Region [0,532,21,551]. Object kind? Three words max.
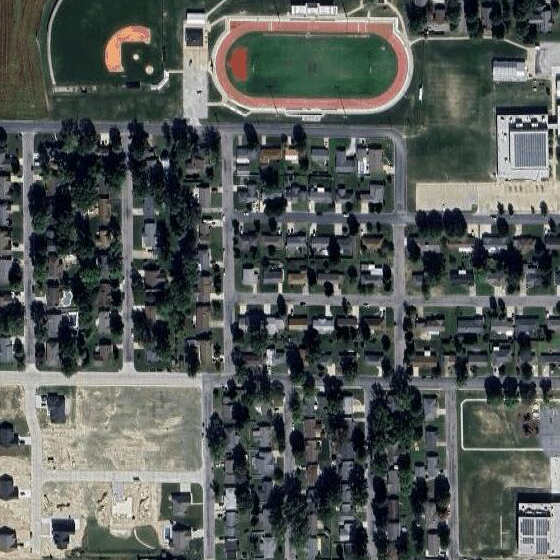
house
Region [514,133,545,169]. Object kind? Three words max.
solar panel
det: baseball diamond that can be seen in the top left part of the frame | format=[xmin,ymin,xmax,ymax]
[49,0,164,87]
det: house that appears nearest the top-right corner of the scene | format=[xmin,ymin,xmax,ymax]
[529,11,552,34]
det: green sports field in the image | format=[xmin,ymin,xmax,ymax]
[226,32,398,98]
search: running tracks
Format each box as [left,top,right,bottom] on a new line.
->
[213,16,411,111]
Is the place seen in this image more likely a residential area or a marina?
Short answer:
residential area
